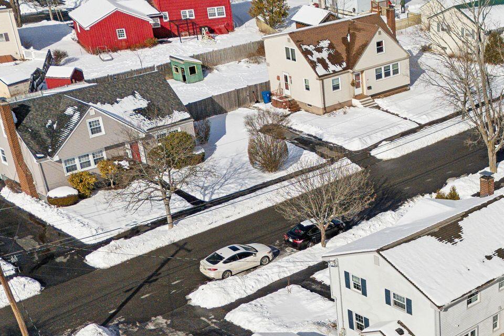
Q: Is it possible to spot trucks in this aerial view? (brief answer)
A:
No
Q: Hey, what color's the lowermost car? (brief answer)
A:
white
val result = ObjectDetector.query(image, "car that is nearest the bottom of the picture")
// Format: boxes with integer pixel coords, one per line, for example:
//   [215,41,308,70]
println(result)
[196,247,270,281]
